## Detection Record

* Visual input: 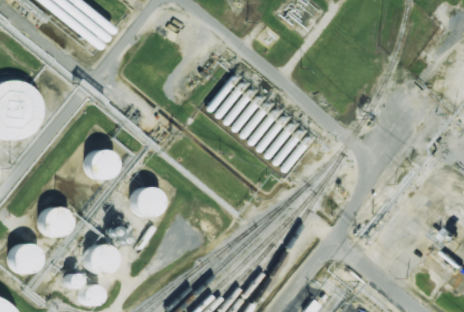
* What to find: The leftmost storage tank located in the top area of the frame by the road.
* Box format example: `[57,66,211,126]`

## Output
[0,79,46,142]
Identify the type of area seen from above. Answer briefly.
industrial area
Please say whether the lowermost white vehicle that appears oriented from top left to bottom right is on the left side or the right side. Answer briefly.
right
